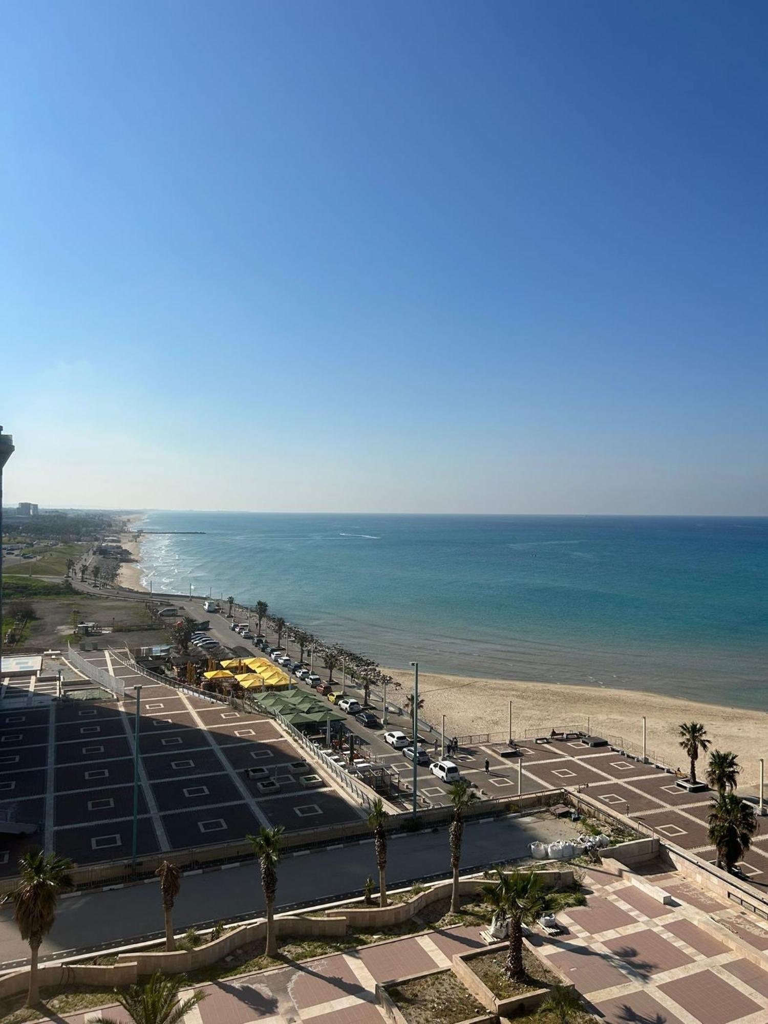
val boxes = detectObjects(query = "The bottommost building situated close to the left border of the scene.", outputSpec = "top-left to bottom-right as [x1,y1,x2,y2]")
[0,654,42,688]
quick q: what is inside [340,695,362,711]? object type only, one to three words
car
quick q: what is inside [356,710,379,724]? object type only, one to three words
car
